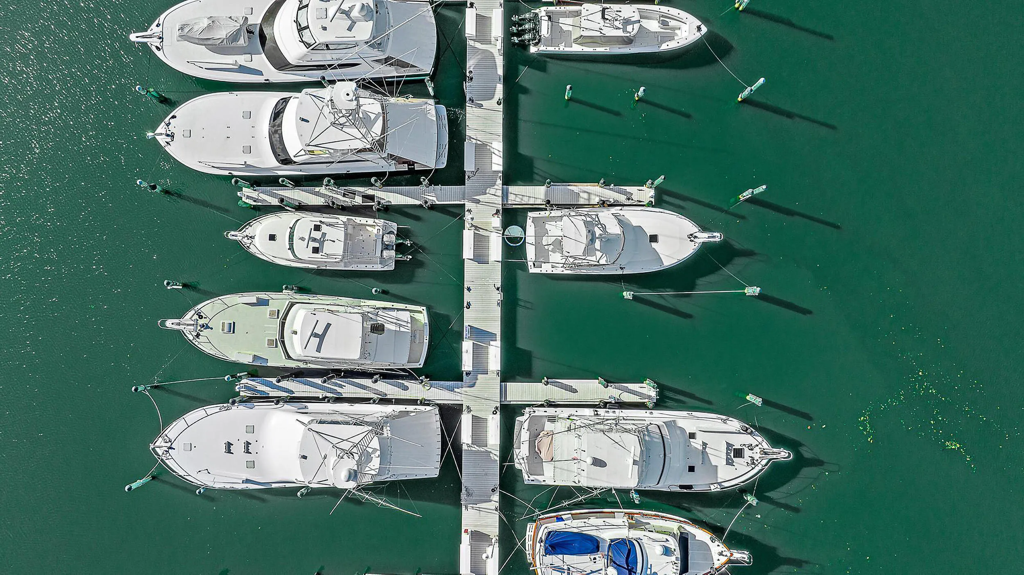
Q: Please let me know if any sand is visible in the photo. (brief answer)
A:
No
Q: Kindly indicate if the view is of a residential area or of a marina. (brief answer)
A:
marina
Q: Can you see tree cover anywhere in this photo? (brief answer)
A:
No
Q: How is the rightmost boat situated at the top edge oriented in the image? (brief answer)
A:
horizontally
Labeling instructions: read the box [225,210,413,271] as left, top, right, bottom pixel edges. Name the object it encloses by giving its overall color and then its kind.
white boat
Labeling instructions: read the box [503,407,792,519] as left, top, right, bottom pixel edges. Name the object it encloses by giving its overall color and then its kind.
white boat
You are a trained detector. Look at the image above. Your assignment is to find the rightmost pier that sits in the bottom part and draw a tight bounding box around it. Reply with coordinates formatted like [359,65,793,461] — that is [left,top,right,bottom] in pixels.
[501,378,659,404]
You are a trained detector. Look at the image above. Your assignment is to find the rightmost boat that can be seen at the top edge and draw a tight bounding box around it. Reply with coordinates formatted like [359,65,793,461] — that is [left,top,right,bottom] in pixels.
[511,4,708,57]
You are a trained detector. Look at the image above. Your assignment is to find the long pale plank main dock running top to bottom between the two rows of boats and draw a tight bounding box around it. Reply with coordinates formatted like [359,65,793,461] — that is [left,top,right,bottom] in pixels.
[459,0,504,575]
